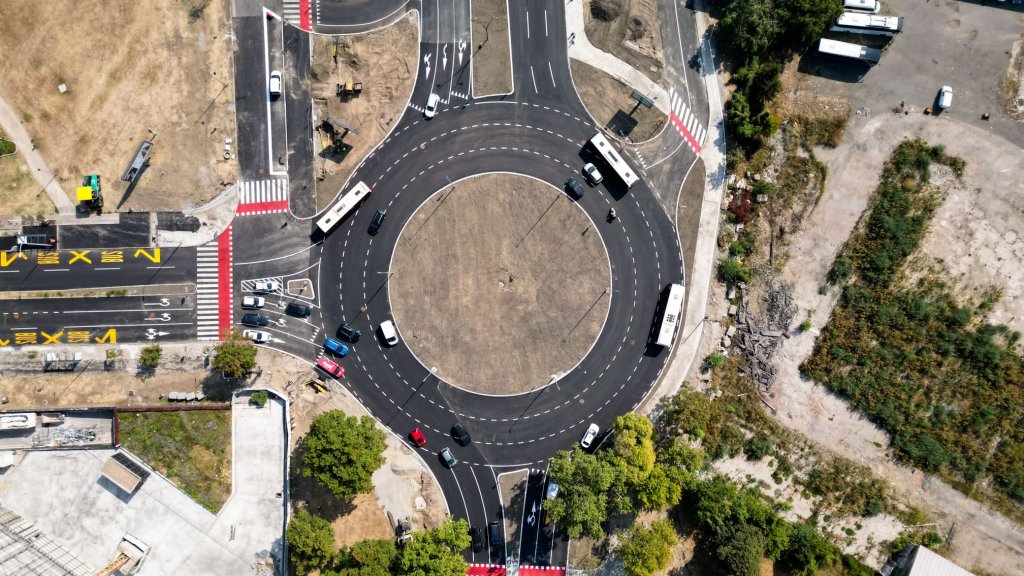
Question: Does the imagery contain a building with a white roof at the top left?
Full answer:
No, no building with a white roof is visible at the top left.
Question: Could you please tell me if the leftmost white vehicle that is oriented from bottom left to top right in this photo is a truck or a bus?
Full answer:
From above, the leftmost white vehicle that is oriented from bottom left to top right can be identified as a bus.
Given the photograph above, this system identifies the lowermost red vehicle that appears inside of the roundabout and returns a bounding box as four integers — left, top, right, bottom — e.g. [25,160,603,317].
[411,427,426,446]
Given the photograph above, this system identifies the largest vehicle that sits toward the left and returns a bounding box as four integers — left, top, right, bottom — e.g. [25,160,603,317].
[317,181,374,234]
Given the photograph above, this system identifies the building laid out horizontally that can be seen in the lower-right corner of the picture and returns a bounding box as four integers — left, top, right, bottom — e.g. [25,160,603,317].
[892,541,977,576]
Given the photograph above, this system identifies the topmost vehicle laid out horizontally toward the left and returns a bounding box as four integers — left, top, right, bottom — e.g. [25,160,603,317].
[335,82,365,96]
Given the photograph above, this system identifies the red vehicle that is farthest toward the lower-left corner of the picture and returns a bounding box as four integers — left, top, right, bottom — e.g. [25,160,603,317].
[318,358,344,377]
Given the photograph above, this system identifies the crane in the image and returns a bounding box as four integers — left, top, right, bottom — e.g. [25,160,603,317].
[94,530,151,576]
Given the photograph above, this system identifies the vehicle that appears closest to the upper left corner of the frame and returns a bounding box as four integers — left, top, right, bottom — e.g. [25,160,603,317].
[15,236,51,255]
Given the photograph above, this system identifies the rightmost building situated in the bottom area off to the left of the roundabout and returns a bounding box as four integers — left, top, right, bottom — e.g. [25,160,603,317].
[100,443,160,494]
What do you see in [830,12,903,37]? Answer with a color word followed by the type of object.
white bus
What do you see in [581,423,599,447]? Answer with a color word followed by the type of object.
white car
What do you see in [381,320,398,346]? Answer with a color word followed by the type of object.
white vehicle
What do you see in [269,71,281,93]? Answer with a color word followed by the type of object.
white vehicle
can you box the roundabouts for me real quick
[316,100,684,468]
